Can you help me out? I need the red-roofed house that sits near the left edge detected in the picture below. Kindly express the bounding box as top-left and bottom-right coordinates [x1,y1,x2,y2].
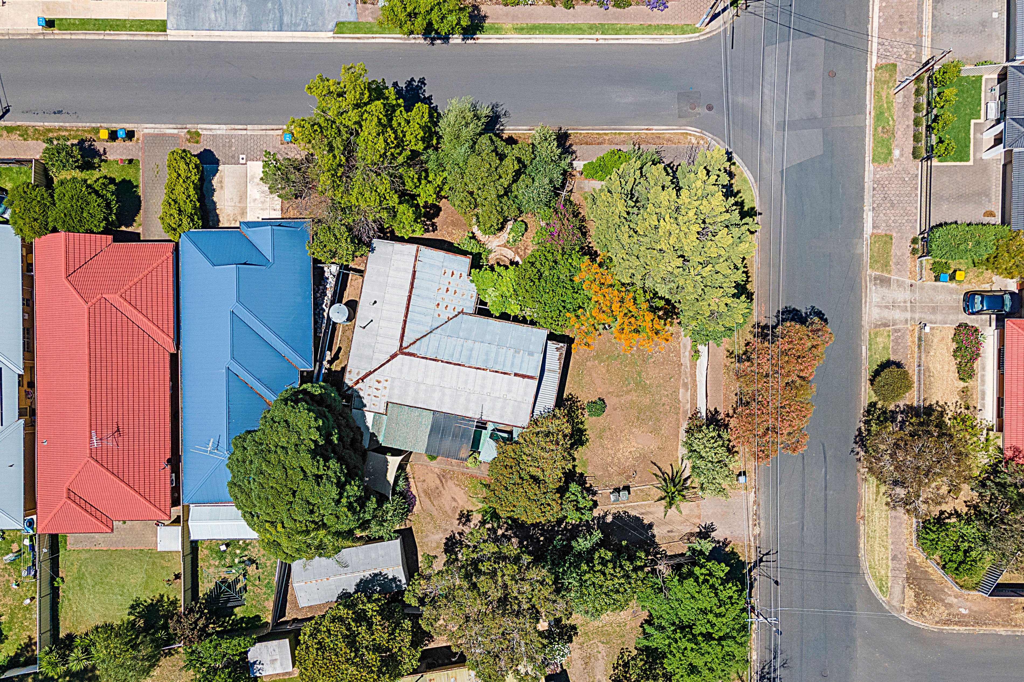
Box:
[33,230,181,535]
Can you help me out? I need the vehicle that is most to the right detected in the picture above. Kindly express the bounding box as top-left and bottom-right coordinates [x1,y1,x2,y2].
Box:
[957,288,1022,318]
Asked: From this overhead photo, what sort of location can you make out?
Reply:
residential area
